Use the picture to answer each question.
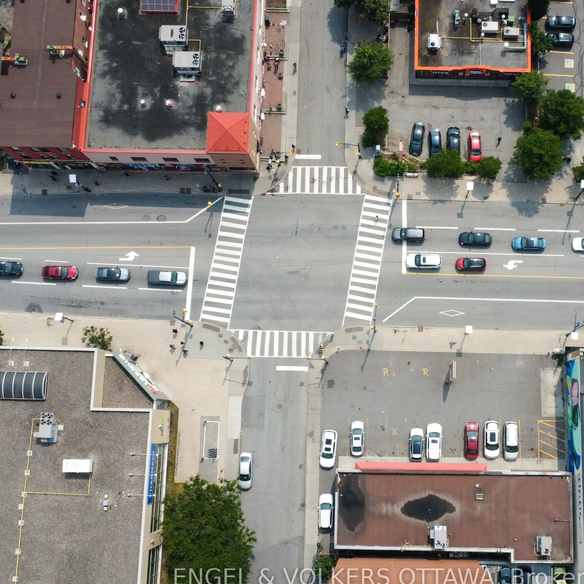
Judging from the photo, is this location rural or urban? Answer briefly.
urban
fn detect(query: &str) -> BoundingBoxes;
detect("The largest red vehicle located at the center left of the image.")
[40,264,80,280]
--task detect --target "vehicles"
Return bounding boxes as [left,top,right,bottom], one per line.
[426,422,443,461]
[392,226,426,242]
[549,30,575,47]
[499,566,515,584]
[469,131,483,163]
[455,255,486,270]
[408,428,426,461]
[571,237,584,252]
[512,235,546,250]
[0,259,24,276]
[459,230,493,246]
[409,120,427,156]
[503,421,521,461]
[40,264,80,280]
[553,566,570,584]
[406,252,442,269]
[483,420,502,459]
[145,269,188,286]
[545,13,577,30]
[317,493,334,531]
[445,125,462,156]
[319,429,338,469]
[238,452,254,490]
[464,422,481,459]
[93,266,132,281]
[349,421,365,457]
[519,566,533,584]
[428,127,442,156]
